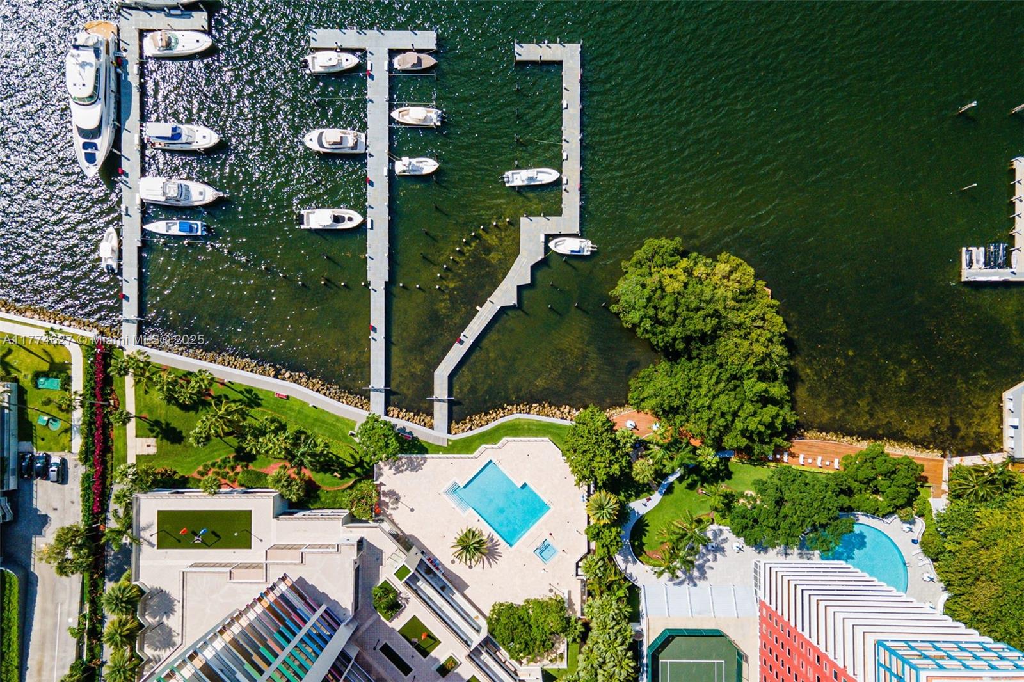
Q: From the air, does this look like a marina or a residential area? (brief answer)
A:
marina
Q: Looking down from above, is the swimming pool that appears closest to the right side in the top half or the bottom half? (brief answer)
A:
bottom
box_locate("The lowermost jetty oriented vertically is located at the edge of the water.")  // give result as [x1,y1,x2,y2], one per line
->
[999,381,1024,457]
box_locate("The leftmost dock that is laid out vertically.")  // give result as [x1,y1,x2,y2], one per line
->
[119,9,210,346]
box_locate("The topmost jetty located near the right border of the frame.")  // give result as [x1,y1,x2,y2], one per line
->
[959,156,1024,282]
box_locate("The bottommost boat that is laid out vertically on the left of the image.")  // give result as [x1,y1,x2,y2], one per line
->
[100,227,121,272]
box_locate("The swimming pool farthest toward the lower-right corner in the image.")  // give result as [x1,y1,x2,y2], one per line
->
[818,521,912,597]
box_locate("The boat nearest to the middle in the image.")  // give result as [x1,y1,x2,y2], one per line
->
[549,237,596,255]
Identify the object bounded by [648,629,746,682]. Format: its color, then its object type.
green tennis court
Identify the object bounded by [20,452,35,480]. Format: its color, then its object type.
black car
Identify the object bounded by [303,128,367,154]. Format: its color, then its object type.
white boat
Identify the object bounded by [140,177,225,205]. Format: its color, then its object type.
white boat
